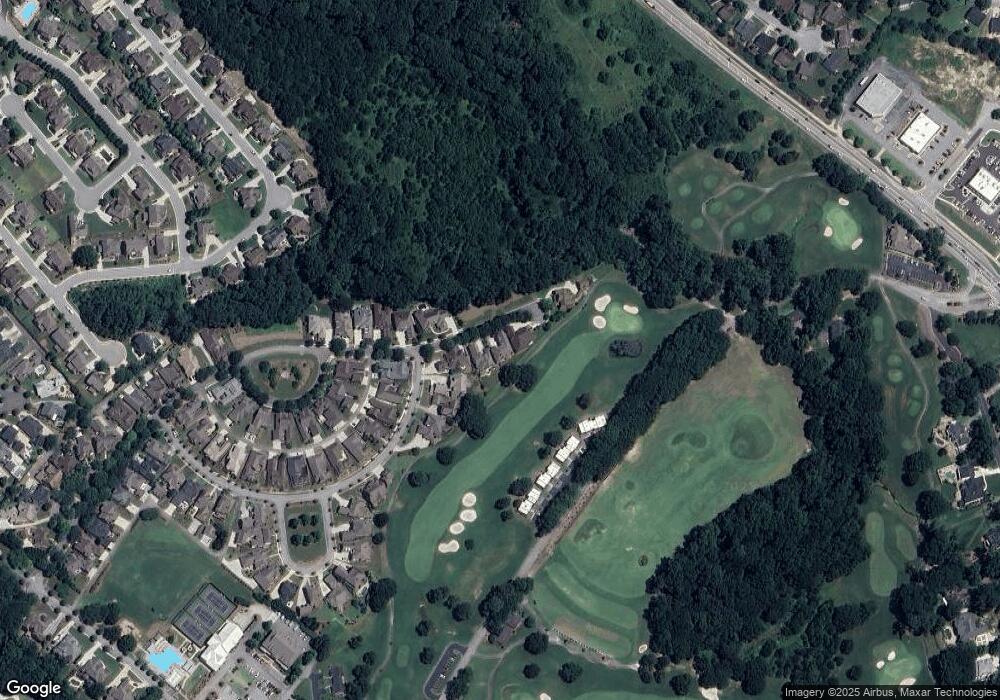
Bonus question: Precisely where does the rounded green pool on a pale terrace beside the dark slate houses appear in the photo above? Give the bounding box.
[937,466,957,482]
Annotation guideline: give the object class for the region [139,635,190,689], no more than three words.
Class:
swimming pool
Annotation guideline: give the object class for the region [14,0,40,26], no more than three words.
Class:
swimming pool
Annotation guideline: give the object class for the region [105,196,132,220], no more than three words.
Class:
house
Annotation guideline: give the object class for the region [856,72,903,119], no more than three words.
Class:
building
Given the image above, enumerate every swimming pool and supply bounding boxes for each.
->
[944,624,956,643]
[14,0,40,26]
[139,635,190,689]
[937,466,957,482]
[96,145,116,165]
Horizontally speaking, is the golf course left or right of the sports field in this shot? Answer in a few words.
right of it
